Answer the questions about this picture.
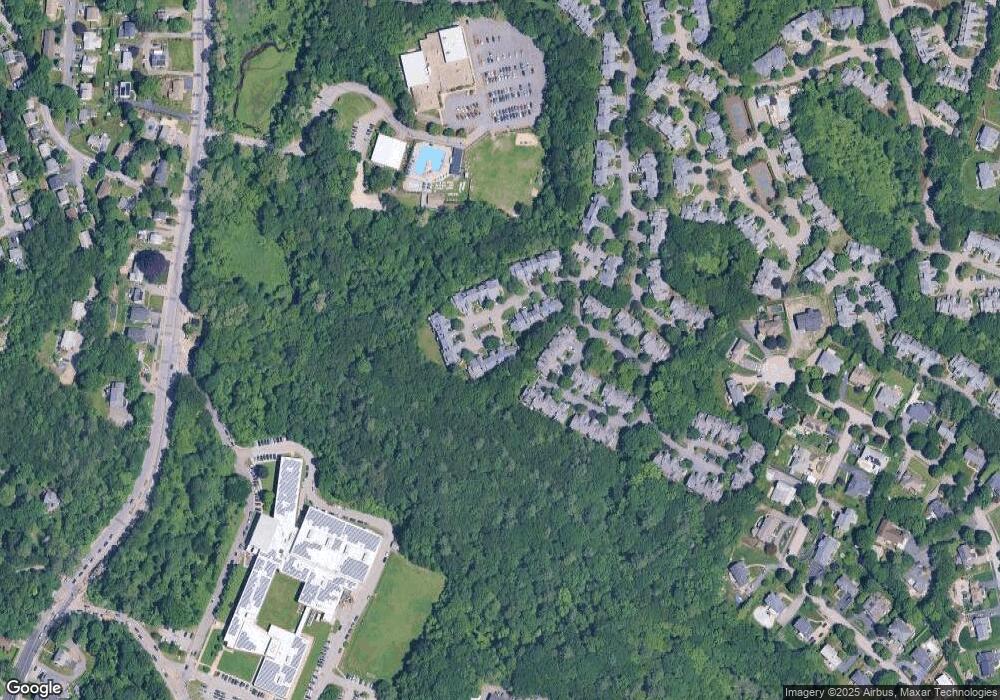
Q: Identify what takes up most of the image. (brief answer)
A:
trees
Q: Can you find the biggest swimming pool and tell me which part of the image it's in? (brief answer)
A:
top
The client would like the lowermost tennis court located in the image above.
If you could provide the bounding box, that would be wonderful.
[748,162,776,209]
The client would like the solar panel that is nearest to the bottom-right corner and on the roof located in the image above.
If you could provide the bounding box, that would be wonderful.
[863,449,886,471]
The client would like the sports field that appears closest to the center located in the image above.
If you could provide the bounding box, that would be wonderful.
[465,131,544,214]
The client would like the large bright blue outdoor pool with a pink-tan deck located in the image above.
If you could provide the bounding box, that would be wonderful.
[405,143,452,192]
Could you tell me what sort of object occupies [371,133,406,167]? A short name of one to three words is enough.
building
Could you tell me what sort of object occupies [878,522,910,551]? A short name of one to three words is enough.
house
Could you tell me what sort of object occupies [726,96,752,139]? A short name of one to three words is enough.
tennis court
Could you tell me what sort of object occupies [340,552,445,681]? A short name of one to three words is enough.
sports field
